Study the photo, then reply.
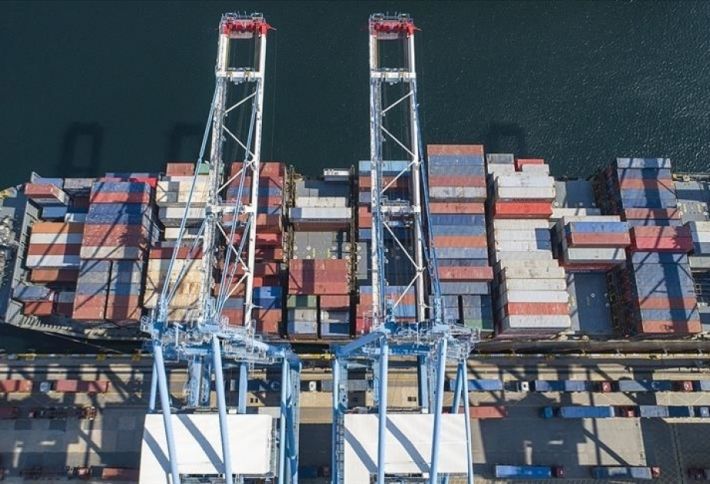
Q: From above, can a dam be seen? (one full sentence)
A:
No, I can see no dam in this picture.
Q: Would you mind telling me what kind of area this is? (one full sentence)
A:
This image shows a port.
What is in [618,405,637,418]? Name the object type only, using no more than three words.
vehicle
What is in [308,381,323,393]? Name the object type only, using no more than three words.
vehicle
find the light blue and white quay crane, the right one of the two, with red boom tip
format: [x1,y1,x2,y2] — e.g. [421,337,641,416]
[324,8,478,484]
